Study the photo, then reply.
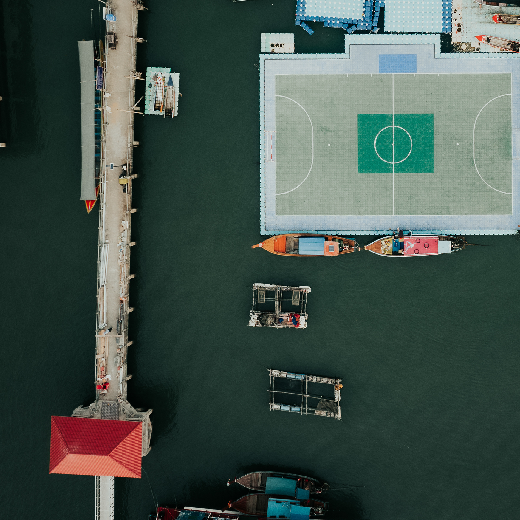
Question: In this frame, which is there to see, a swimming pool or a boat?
boat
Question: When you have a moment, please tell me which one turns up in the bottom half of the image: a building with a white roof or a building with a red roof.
building with a red roof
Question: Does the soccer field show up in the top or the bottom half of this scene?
top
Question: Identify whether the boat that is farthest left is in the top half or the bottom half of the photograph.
top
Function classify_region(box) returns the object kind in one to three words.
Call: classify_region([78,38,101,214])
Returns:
boat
